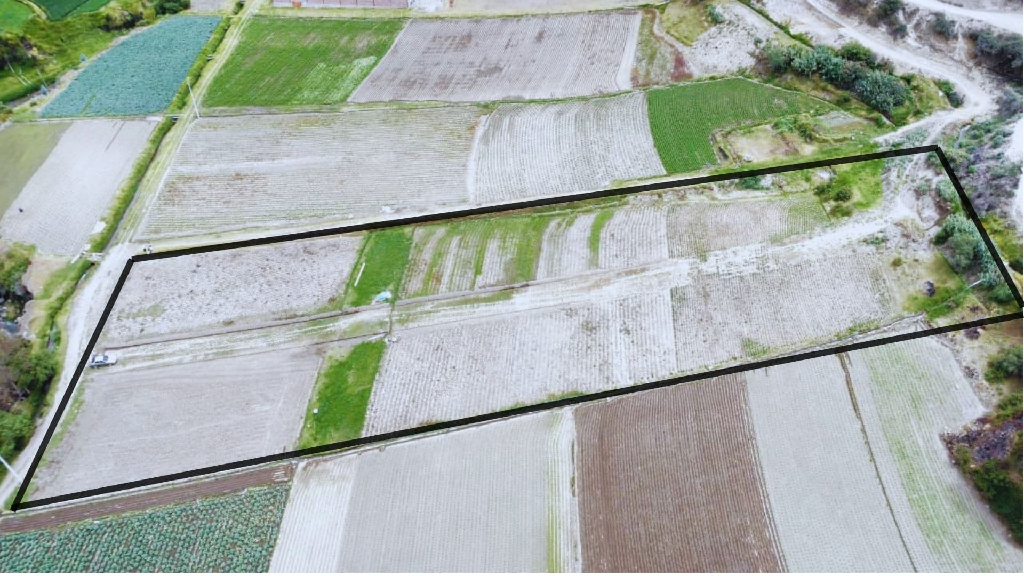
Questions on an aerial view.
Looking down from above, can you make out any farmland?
Yes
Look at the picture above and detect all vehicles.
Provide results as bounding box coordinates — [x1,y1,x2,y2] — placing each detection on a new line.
[88,355,117,368]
